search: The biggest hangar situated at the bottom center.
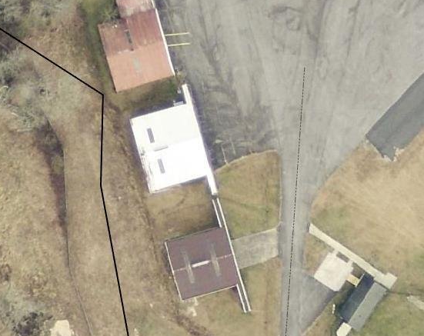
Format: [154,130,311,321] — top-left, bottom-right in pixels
[165,198,246,312]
